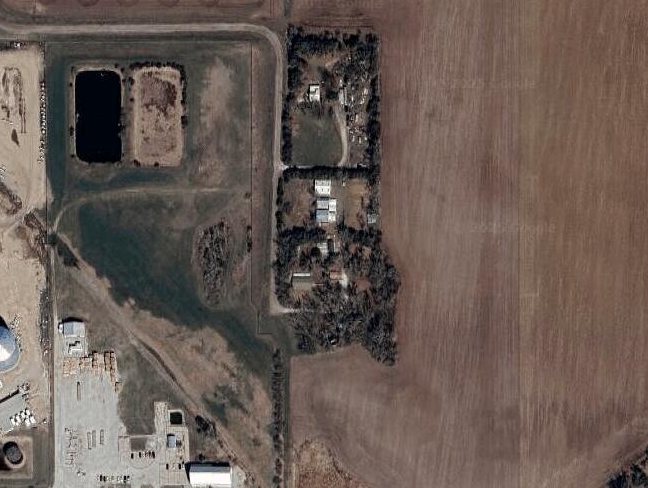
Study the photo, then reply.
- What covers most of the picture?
farmland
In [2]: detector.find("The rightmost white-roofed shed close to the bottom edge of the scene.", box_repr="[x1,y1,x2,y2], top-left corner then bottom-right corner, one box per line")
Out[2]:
[189,465,232,487]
